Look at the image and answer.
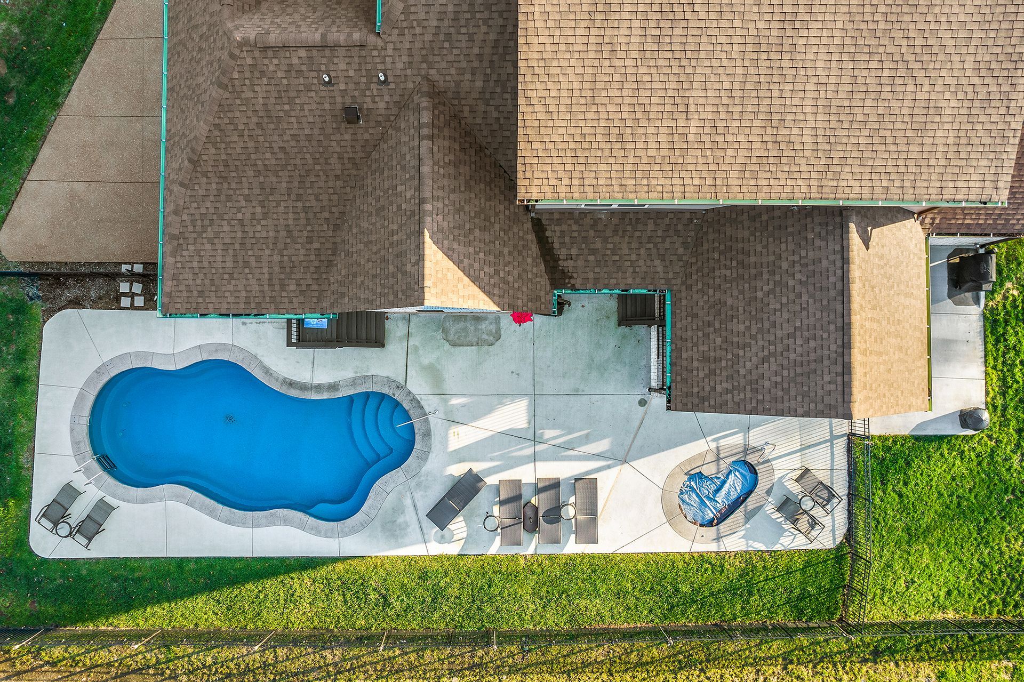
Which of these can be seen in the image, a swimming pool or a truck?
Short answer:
swimming pool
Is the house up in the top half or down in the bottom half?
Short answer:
top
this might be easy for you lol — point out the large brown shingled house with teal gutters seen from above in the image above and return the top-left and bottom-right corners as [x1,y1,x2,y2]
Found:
[159,0,1024,419]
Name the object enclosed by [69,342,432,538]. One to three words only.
swimming pool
